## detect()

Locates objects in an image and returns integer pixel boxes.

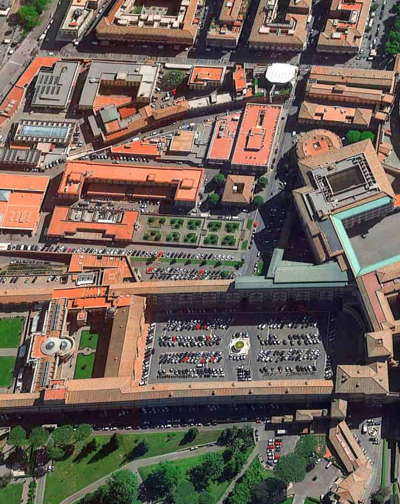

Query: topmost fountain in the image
[227,337,250,354]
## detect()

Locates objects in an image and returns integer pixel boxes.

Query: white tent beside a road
[266,63,298,86]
